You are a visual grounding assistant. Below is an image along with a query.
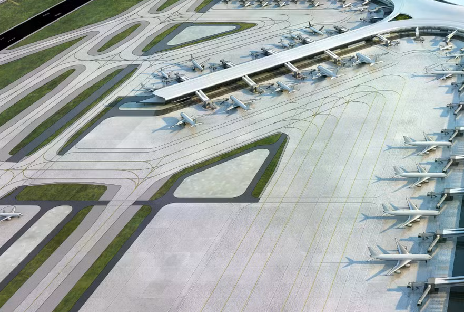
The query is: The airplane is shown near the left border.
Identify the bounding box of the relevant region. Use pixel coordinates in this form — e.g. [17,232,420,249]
[0,204,24,220]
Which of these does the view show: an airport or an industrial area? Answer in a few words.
airport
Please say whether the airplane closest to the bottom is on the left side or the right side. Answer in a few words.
right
